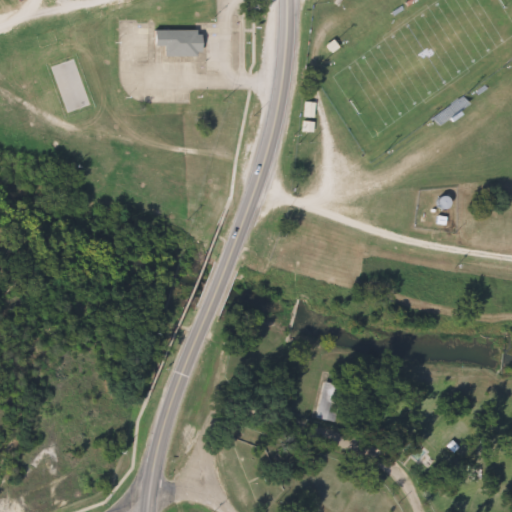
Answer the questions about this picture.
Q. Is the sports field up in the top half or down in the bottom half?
top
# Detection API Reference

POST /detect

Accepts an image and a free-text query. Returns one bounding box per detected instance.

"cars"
[256,164,262,174]
[232,229,238,238]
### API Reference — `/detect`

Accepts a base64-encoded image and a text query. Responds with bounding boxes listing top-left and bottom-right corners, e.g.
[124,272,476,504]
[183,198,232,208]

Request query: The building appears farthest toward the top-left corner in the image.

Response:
[157,30,205,56]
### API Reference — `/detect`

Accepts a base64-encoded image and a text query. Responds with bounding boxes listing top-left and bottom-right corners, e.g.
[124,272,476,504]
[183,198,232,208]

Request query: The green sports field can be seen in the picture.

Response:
[326,0,512,146]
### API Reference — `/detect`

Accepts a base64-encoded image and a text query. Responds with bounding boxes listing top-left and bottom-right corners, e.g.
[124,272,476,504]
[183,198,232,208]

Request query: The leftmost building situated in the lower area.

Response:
[314,381,338,422]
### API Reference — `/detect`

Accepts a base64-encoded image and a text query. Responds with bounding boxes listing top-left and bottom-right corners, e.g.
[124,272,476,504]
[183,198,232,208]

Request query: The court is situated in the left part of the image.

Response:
[52,60,90,112]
